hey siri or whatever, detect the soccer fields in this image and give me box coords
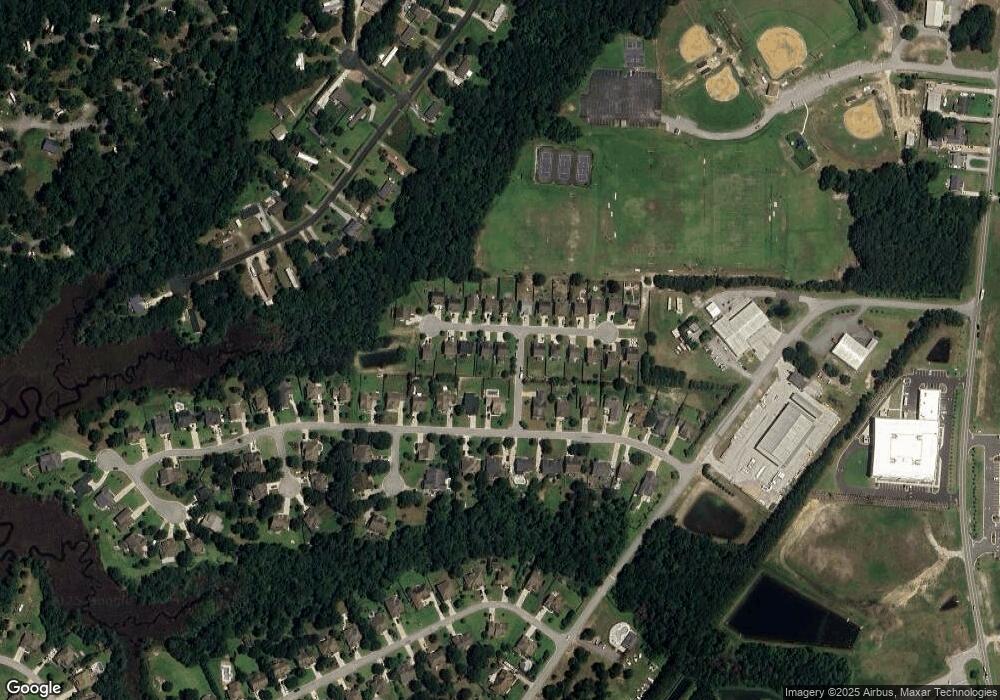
[706,152,771,262]
[619,152,683,262]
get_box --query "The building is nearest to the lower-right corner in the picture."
[872,418,938,482]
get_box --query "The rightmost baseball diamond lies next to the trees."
[826,93,890,158]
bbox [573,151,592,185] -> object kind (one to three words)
tennis court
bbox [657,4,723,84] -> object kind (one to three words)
baseball field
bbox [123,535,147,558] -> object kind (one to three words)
house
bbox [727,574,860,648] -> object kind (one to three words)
pond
